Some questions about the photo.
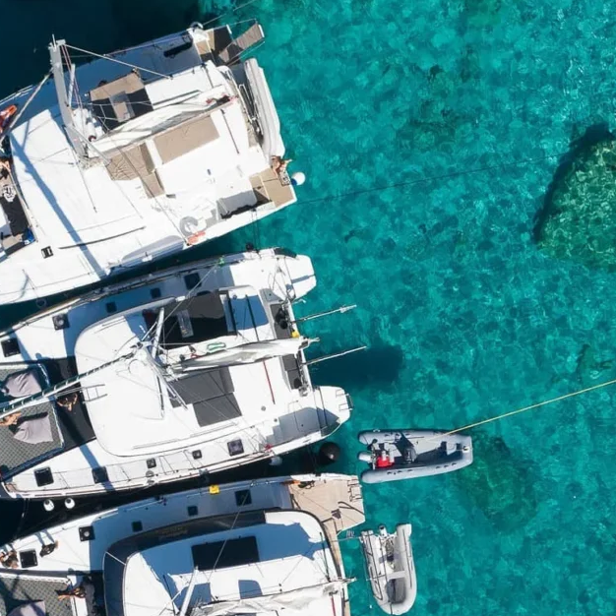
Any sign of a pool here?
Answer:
No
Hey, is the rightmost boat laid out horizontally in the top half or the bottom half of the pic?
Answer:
bottom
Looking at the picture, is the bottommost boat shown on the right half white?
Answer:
Yes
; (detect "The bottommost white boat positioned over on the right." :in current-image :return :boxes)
[361,517,418,616]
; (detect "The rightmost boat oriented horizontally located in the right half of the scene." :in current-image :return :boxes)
[351,426,475,483]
